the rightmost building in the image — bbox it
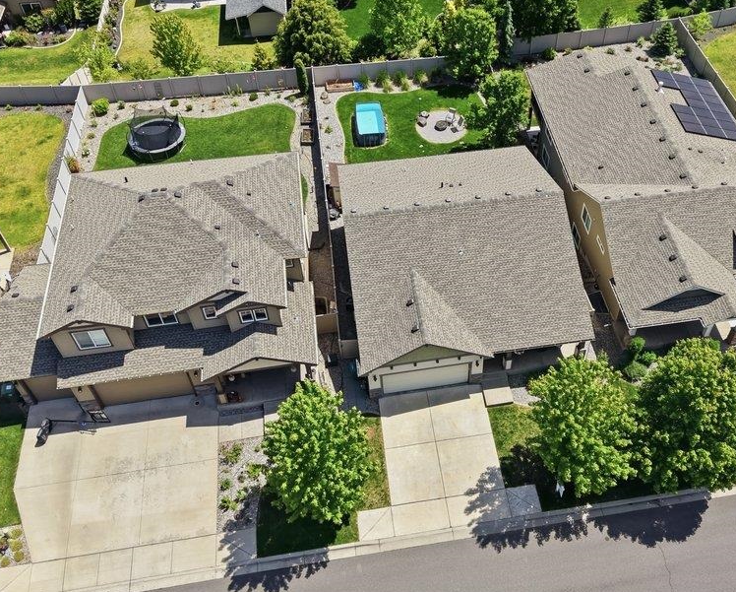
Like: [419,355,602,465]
[525,50,736,358]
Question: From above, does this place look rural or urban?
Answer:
urban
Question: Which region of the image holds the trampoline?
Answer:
top left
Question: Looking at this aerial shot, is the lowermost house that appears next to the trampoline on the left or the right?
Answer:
left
